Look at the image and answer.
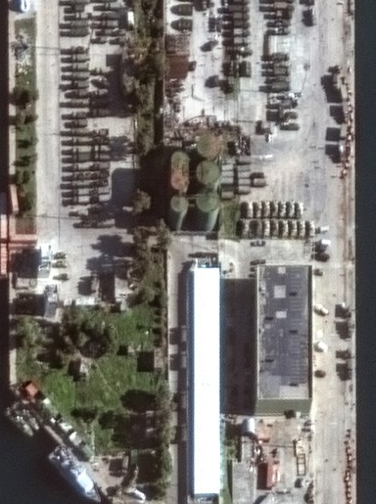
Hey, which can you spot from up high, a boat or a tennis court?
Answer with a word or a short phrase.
boat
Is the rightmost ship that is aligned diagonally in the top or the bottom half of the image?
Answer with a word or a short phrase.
bottom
